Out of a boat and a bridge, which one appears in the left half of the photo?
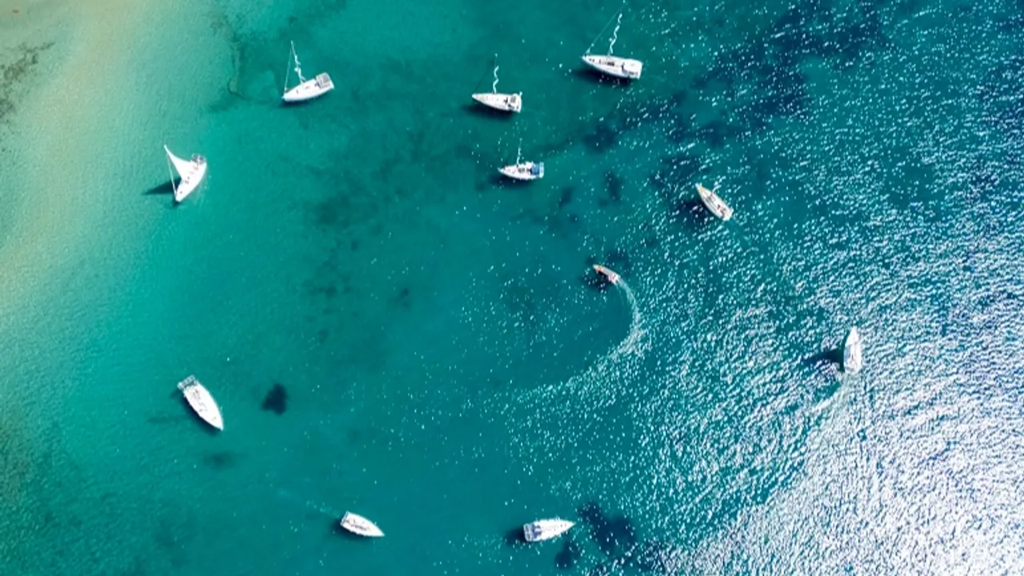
boat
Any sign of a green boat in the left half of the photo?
No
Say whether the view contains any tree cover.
No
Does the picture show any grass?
No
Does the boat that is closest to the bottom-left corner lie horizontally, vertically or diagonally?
diagonally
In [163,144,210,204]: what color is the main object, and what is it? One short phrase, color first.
white boat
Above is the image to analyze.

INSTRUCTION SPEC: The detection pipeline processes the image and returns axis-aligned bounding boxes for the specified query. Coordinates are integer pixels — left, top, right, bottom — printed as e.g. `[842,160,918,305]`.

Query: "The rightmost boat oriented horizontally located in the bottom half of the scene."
[518,517,575,542]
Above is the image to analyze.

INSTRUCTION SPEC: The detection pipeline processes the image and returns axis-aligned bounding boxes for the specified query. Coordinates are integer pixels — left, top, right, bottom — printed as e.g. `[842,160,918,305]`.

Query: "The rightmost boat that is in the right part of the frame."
[842,321,886,377]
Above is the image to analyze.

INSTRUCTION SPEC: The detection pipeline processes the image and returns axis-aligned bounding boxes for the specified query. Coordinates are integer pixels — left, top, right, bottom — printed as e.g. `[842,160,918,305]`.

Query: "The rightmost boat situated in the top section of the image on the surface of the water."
[696,170,736,222]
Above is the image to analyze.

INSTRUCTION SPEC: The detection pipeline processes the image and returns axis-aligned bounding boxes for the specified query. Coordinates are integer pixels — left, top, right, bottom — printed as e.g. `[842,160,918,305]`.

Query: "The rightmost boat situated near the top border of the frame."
[581,4,643,80]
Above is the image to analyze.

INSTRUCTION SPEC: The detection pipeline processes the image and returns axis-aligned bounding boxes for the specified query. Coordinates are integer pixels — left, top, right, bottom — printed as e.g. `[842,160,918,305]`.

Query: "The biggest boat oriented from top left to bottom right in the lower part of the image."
[179,379,225,431]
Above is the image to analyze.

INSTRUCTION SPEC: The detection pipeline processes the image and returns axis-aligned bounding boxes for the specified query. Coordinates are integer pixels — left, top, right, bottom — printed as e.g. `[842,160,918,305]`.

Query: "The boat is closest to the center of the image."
[594,265,621,286]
